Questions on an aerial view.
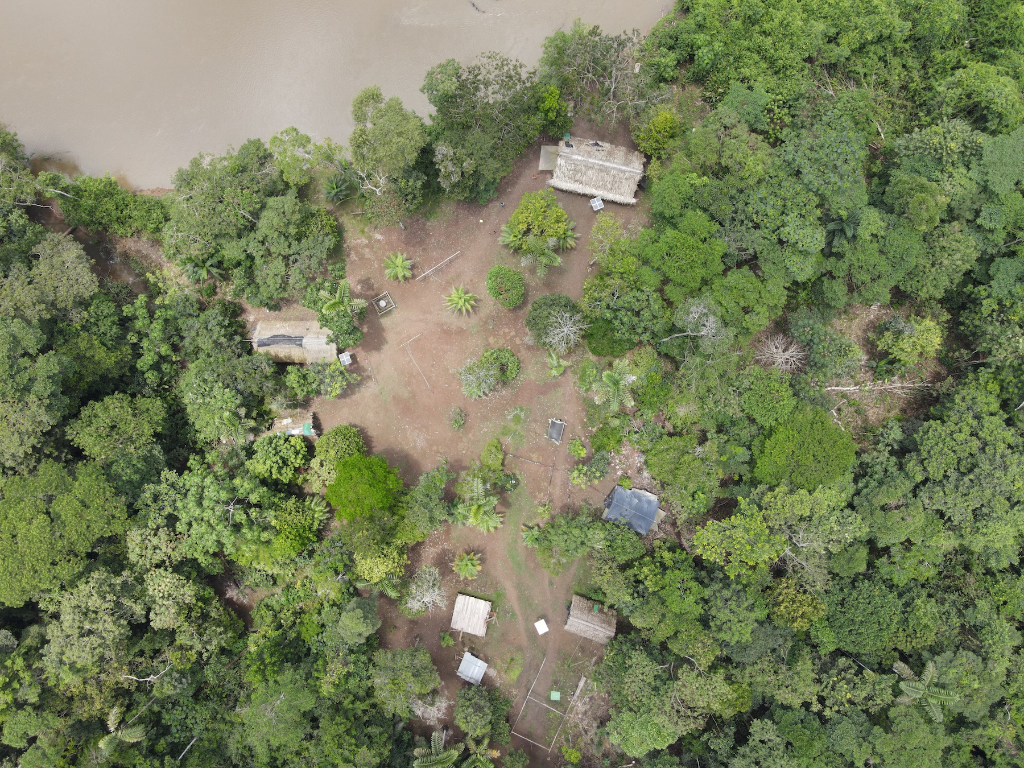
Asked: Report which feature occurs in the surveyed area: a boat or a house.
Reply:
house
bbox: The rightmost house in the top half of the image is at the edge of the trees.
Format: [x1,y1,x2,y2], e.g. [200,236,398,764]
[543,137,649,205]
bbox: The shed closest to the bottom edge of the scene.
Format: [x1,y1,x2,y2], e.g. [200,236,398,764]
[457,644,488,684]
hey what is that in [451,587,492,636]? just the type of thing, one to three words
shed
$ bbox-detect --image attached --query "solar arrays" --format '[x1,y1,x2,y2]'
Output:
[589,196,603,211]
[338,352,352,365]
